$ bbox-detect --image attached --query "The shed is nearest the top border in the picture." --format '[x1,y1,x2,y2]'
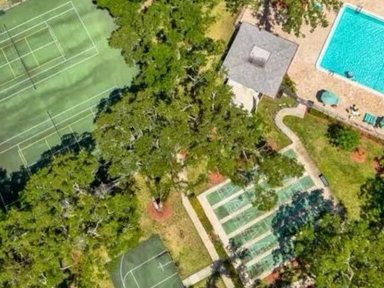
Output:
[221,21,300,97]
